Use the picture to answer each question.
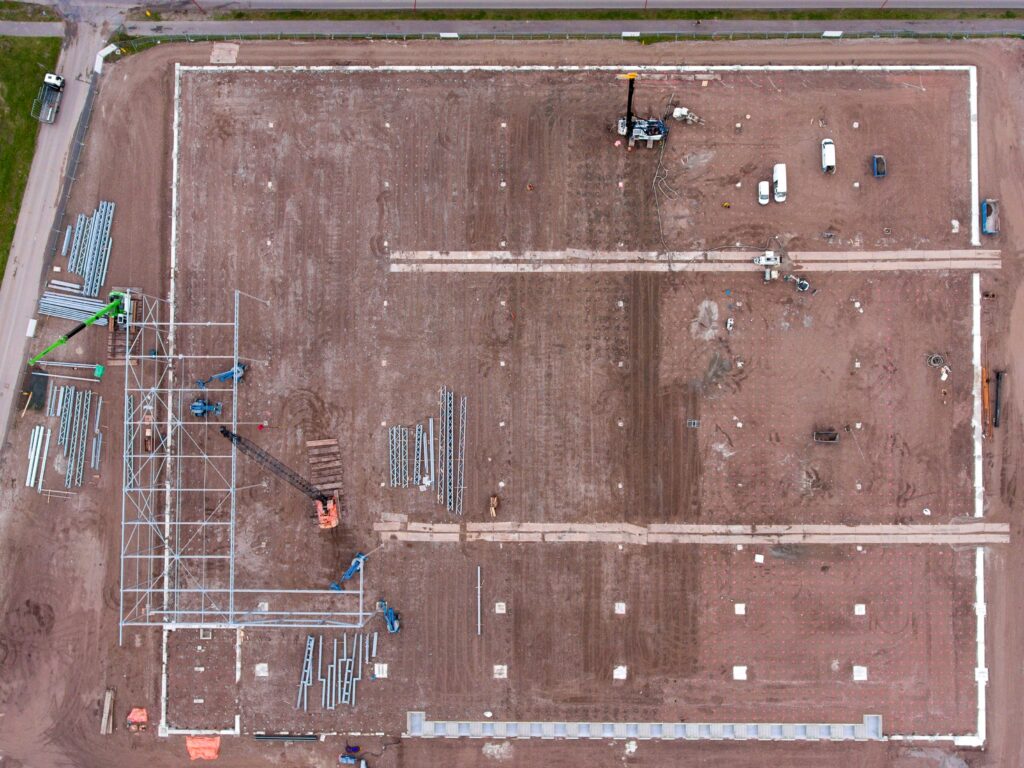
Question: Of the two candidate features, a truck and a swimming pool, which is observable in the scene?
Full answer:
The one in the frame is a truck.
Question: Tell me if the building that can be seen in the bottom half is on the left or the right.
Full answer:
It is on the left.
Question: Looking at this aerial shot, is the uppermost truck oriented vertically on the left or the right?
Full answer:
The uppermost truck oriented vertically sits on the left side.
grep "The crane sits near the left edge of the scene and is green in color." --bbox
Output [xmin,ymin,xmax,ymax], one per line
[25,291,137,367]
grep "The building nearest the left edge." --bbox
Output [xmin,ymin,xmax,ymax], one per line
[119,288,383,643]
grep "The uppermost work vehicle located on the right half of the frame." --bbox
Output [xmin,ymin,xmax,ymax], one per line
[672,103,709,126]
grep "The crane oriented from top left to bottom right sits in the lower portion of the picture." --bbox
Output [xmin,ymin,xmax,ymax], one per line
[219,428,343,530]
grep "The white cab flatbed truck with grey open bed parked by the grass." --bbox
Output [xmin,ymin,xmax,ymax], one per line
[35,72,67,126]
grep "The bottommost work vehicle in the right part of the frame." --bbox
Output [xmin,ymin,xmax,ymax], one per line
[786,272,812,291]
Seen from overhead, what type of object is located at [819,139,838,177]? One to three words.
vehicle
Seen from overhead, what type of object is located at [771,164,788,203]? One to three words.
vehicle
